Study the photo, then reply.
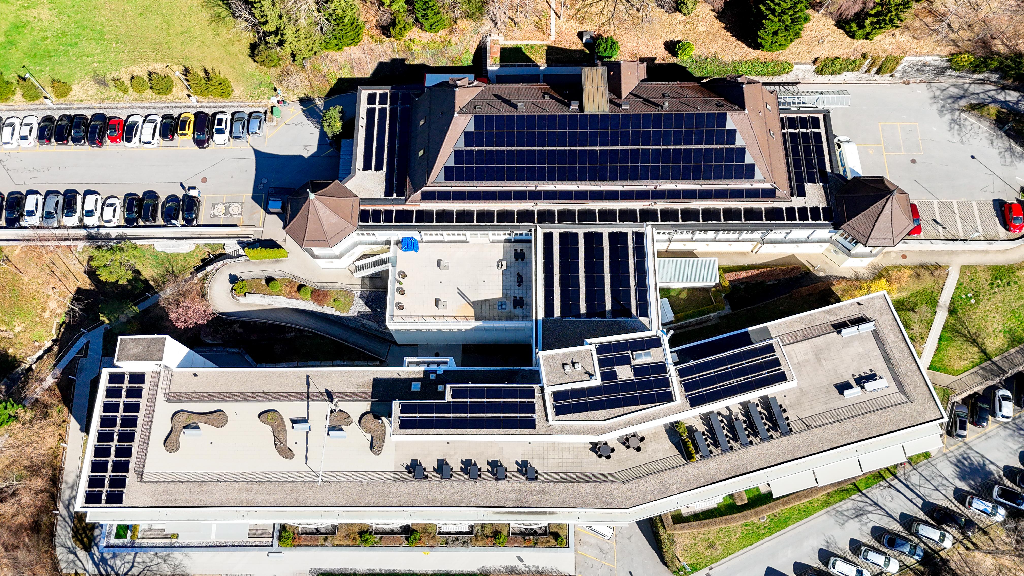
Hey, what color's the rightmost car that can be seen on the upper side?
red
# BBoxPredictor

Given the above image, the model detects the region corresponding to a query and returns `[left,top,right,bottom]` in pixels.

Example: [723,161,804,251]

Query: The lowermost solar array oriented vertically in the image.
[83,373,147,506]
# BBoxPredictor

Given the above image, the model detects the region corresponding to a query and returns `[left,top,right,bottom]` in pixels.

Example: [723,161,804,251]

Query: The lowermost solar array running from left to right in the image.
[400,388,544,430]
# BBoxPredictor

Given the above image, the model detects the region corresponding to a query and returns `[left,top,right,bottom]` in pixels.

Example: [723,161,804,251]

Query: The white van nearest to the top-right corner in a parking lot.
[837,137,871,178]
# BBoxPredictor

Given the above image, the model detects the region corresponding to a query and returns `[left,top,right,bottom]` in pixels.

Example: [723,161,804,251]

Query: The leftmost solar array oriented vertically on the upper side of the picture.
[362,91,411,196]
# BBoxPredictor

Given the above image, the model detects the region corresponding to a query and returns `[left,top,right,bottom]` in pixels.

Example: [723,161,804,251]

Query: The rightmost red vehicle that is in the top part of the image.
[1003,202,1024,232]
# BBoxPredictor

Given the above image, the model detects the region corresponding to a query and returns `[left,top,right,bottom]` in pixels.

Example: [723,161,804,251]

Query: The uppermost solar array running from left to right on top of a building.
[433,113,765,182]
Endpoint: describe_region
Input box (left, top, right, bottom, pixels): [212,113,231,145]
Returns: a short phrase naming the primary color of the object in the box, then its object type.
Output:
white car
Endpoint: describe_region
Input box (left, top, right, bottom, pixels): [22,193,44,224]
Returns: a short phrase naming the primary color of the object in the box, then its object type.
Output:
white car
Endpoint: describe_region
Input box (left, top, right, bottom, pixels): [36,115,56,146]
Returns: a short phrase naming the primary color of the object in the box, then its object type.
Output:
black car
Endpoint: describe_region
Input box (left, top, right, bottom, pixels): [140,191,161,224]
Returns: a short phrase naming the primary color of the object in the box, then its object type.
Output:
black car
